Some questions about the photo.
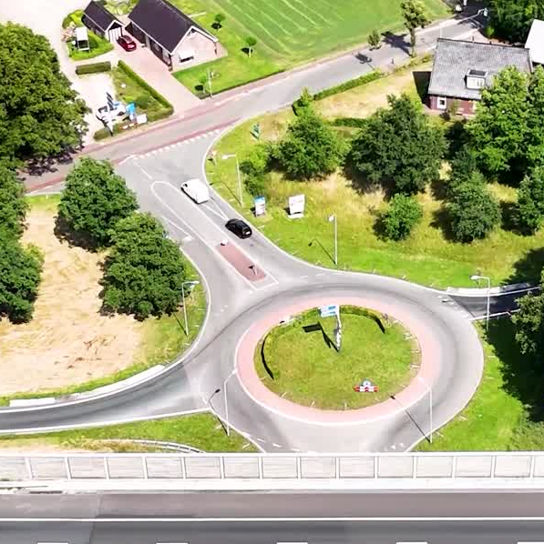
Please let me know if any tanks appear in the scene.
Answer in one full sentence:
No, there isn't any tank down there.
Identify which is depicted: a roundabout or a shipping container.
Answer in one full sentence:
This aerial view contains a roundabout.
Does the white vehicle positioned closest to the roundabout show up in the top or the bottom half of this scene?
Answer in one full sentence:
You can find the white vehicle positioned closest to the roundabout in the top half.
